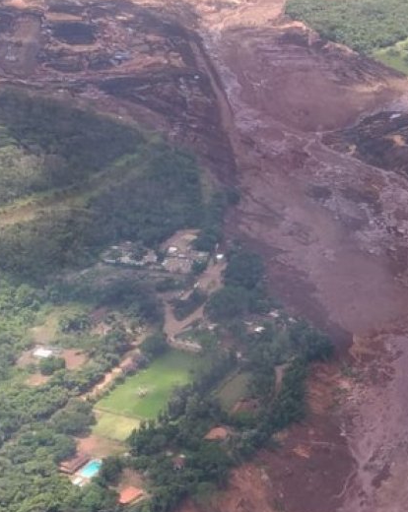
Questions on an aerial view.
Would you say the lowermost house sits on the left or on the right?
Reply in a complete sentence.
The lowermost house is on the left side of the image.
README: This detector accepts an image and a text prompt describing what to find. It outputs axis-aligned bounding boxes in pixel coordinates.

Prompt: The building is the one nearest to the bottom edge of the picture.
[116,484,142,505]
